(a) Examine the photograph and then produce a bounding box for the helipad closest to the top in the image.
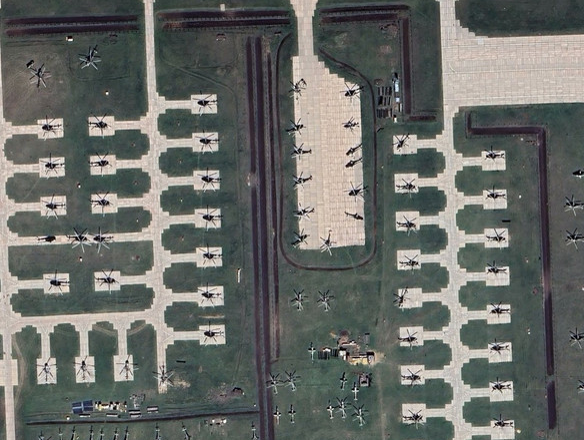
[191,94,216,113]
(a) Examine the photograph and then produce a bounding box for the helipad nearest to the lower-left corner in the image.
[36,358,56,384]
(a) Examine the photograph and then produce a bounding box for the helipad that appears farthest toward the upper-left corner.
[37,118,63,137]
